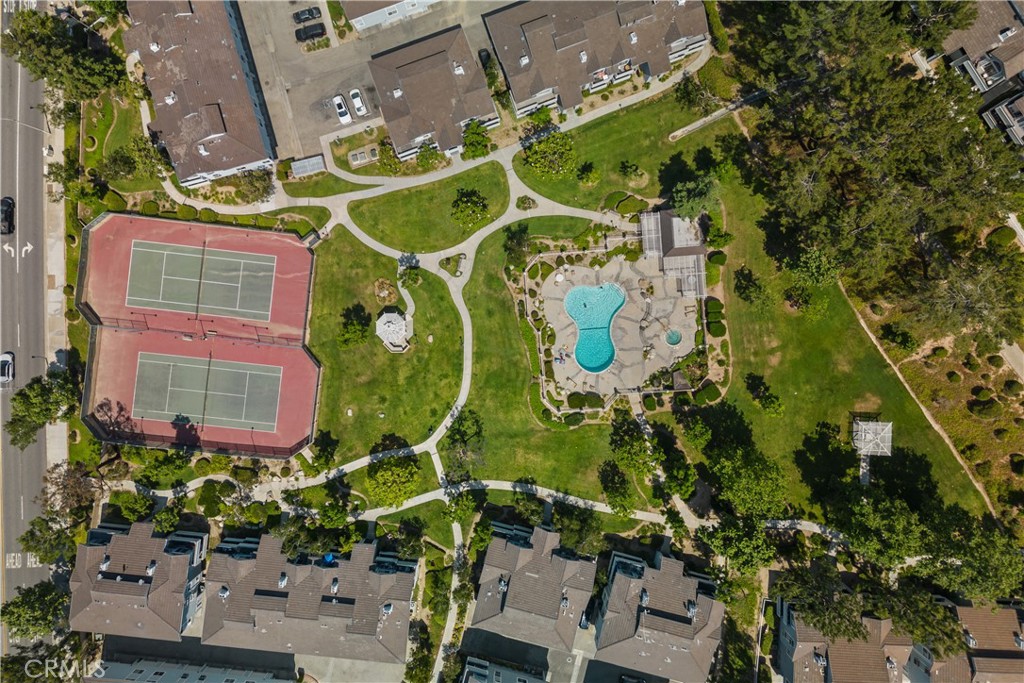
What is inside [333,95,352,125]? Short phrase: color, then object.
white car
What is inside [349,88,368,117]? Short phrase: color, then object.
white car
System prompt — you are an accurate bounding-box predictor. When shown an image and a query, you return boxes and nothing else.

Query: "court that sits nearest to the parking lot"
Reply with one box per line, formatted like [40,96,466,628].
[85,216,310,345]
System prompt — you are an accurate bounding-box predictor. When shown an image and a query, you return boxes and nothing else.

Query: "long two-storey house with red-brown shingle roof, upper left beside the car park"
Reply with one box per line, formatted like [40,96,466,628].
[122,0,275,197]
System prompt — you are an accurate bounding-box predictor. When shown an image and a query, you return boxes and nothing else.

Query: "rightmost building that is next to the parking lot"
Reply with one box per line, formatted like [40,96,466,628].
[482,0,707,120]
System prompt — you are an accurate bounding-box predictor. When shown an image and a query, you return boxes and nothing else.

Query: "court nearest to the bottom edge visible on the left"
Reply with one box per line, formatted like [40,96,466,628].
[95,326,314,455]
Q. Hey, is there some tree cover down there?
Yes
